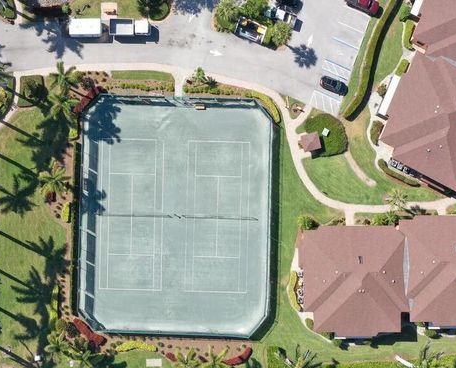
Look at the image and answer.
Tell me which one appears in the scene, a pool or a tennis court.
tennis court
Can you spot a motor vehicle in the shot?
Yes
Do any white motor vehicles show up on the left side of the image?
Yes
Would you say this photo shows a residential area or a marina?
residential area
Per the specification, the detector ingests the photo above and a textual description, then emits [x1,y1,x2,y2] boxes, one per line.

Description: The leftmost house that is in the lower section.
[300,226,410,339]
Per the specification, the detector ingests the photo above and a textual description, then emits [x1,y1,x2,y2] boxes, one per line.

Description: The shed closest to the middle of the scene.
[299,133,321,152]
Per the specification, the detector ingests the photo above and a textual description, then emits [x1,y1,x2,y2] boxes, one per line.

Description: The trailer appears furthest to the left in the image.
[69,19,107,39]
